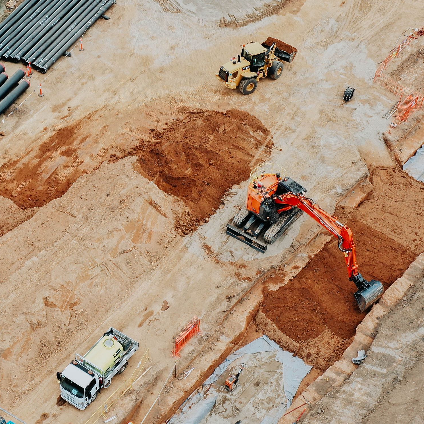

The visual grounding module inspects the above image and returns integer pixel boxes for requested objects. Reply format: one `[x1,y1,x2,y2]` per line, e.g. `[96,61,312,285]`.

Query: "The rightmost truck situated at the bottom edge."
[49,323,147,416]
